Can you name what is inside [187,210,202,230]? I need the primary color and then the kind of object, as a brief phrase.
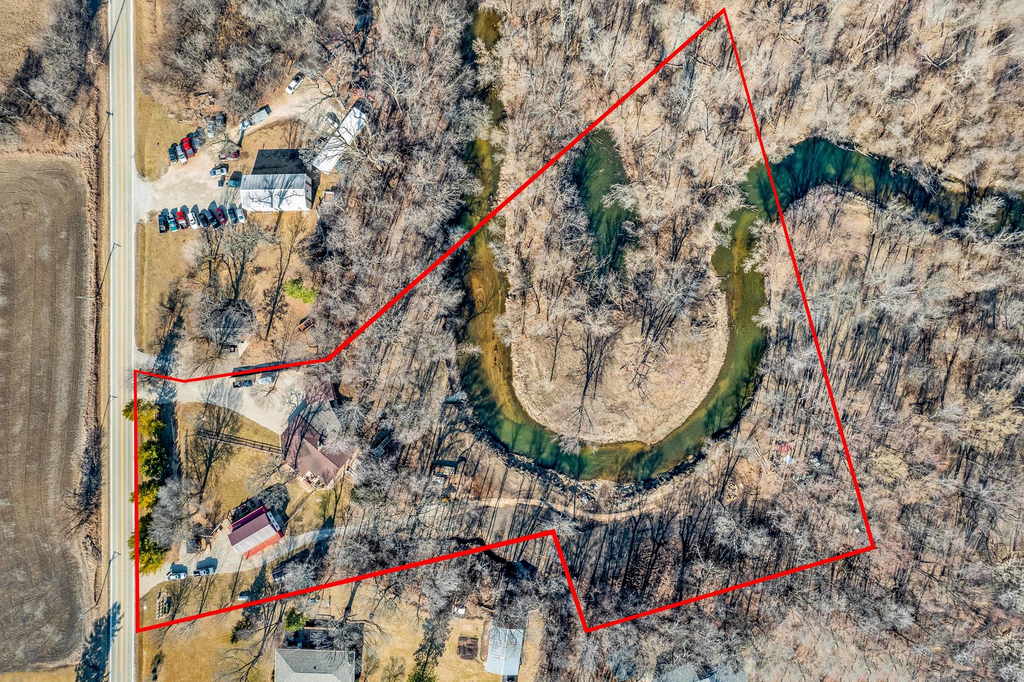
white car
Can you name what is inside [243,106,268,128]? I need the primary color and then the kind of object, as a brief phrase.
white truck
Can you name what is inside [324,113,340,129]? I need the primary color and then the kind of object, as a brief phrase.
white car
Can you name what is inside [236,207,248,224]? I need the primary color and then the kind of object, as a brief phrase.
white vehicle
